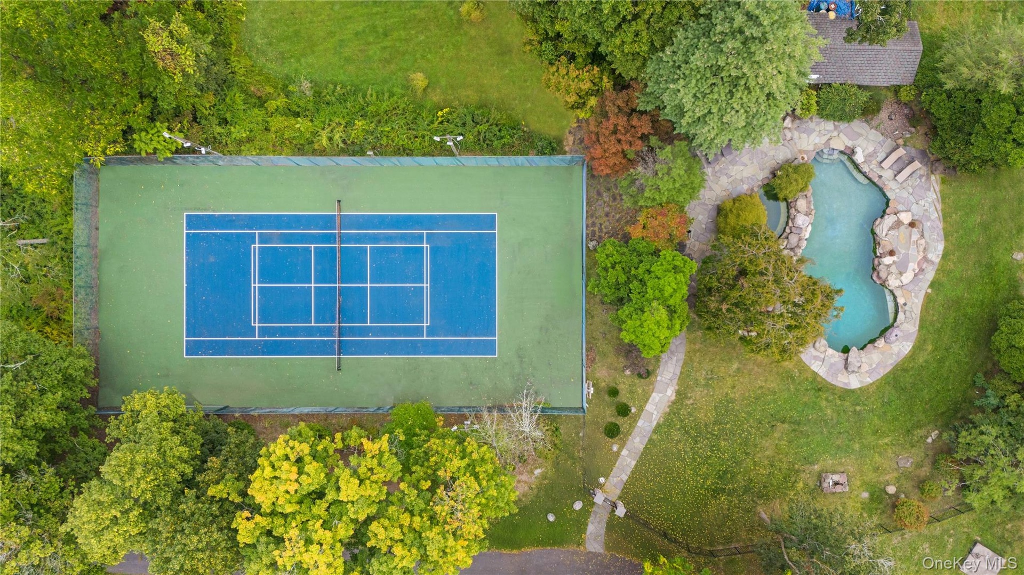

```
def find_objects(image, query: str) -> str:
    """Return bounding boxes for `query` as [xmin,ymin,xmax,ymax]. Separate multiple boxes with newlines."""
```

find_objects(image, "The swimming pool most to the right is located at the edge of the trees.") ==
[802,143,907,361]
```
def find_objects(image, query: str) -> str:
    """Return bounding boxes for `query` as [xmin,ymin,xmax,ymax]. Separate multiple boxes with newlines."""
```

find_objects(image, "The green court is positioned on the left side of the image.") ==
[98,165,583,408]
